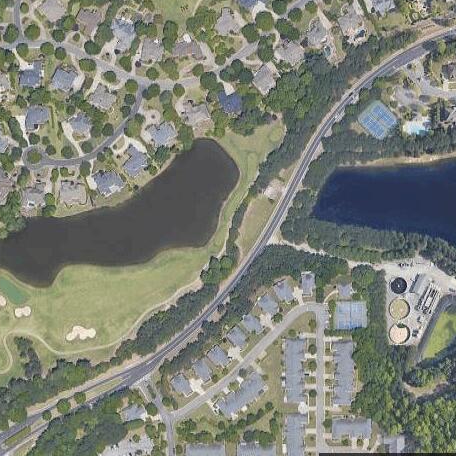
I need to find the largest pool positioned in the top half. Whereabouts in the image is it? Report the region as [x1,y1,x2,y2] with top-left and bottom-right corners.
[403,118,431,136]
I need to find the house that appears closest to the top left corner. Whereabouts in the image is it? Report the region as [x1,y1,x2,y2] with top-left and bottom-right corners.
[36,0,68,20]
